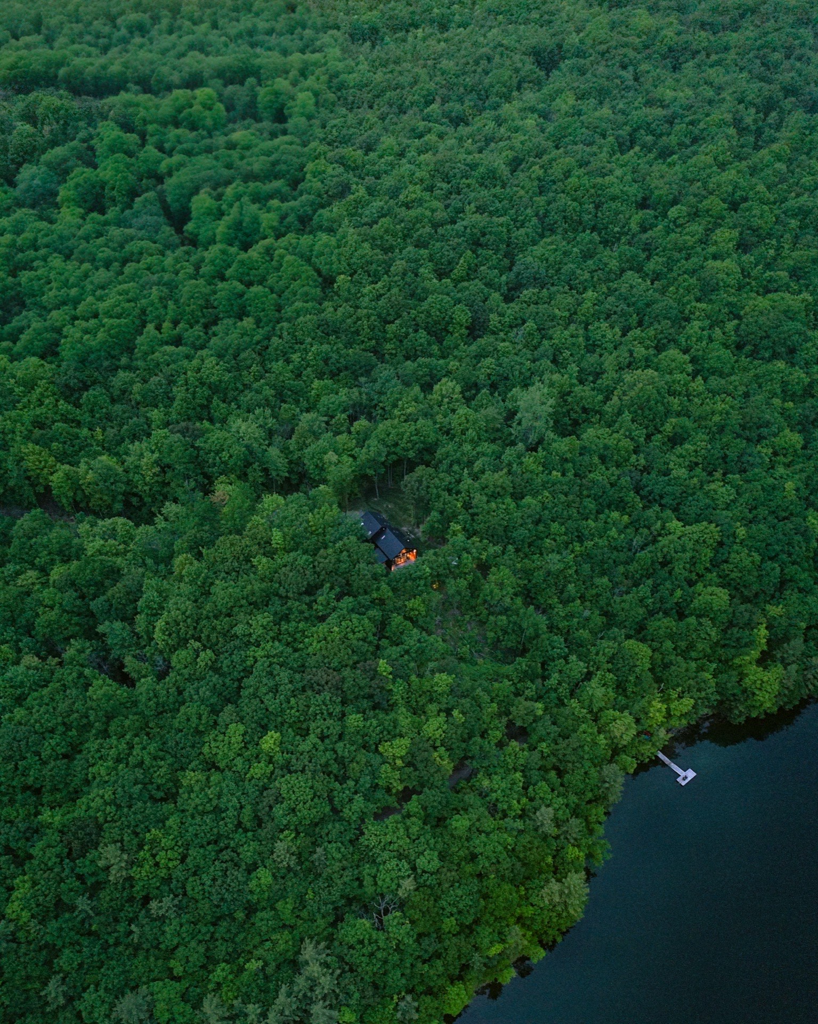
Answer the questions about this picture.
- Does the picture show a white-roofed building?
No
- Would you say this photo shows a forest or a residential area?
forest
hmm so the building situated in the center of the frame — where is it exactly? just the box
[360,511,418,571]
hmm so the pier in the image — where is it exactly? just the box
[652,745,696,786]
